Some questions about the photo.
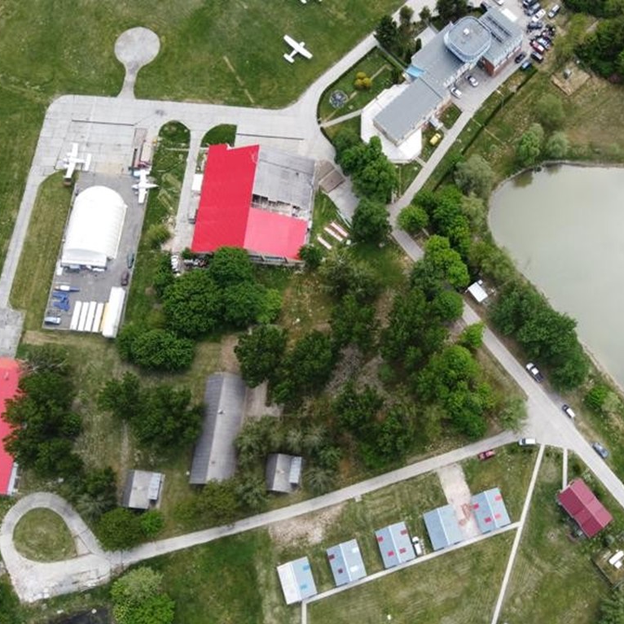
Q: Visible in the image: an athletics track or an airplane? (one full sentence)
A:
The one in the frame is an airplane.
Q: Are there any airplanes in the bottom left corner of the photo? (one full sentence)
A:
No, I see no airplane in the bottom left corner of the photo.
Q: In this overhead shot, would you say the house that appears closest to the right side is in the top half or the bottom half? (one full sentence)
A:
Seen from above, the house that appears closest to the right side lies in the bottom half of the view.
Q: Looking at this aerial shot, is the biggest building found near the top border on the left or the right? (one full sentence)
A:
The biggest building found near the top border is on the right side of the image.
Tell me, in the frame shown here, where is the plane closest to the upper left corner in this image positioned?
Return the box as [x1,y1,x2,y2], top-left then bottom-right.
[64,144,91,180]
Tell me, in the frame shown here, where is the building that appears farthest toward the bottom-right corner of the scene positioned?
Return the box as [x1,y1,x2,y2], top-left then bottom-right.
[557,479,613,537]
